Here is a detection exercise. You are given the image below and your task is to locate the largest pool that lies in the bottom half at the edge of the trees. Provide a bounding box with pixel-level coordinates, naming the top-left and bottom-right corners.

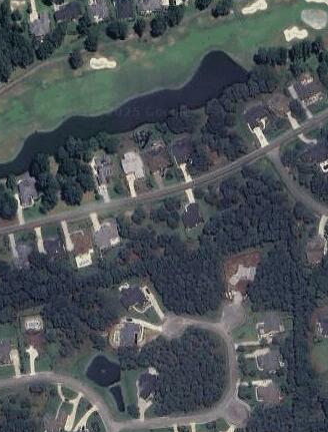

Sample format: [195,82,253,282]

[24,318,41,330]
